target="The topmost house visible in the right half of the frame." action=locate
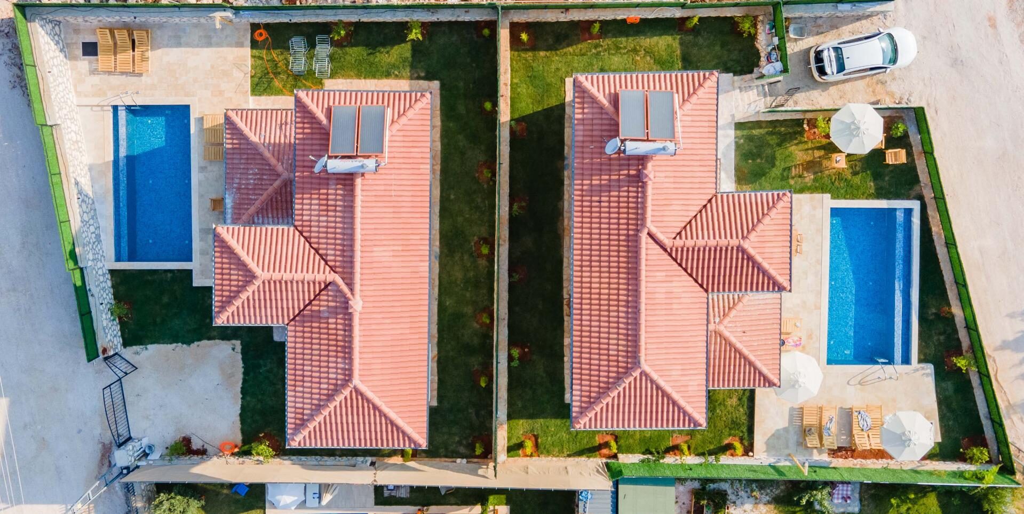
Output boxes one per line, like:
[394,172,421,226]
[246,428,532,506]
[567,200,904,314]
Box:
[569,69,796,433]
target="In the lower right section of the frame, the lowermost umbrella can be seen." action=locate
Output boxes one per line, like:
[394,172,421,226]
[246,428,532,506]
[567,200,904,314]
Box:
[879,411,933,460]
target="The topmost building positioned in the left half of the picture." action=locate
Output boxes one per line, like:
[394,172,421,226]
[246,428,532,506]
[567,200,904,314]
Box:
[209,87,432,452]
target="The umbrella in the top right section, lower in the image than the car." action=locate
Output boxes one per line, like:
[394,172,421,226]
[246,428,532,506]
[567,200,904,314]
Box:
[832,103,882,153]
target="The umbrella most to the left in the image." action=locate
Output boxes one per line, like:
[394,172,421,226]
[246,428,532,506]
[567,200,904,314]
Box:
[266,483,303,514]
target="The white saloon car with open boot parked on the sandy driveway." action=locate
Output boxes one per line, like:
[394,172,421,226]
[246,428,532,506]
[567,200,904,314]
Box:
[809,24,915,79]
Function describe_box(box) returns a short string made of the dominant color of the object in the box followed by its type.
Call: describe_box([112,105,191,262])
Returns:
blue swimming pool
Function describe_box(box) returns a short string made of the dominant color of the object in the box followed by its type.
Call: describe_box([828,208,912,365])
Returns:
blue swimming pool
